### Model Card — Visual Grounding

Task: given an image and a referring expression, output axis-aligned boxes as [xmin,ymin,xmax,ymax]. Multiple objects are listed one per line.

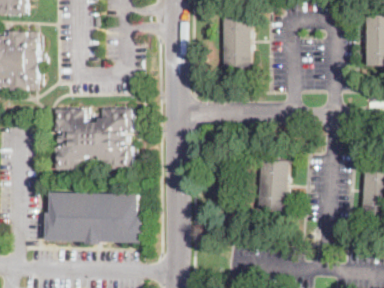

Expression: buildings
[258,160,293,210]
[44,193,142,246]
[367,15,384,68]
[360,172,384,214]
[223,18,257,68]
[53,106,137,172]
[0,0,31,23]
[0,30,49,99]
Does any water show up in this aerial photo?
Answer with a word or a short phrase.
No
